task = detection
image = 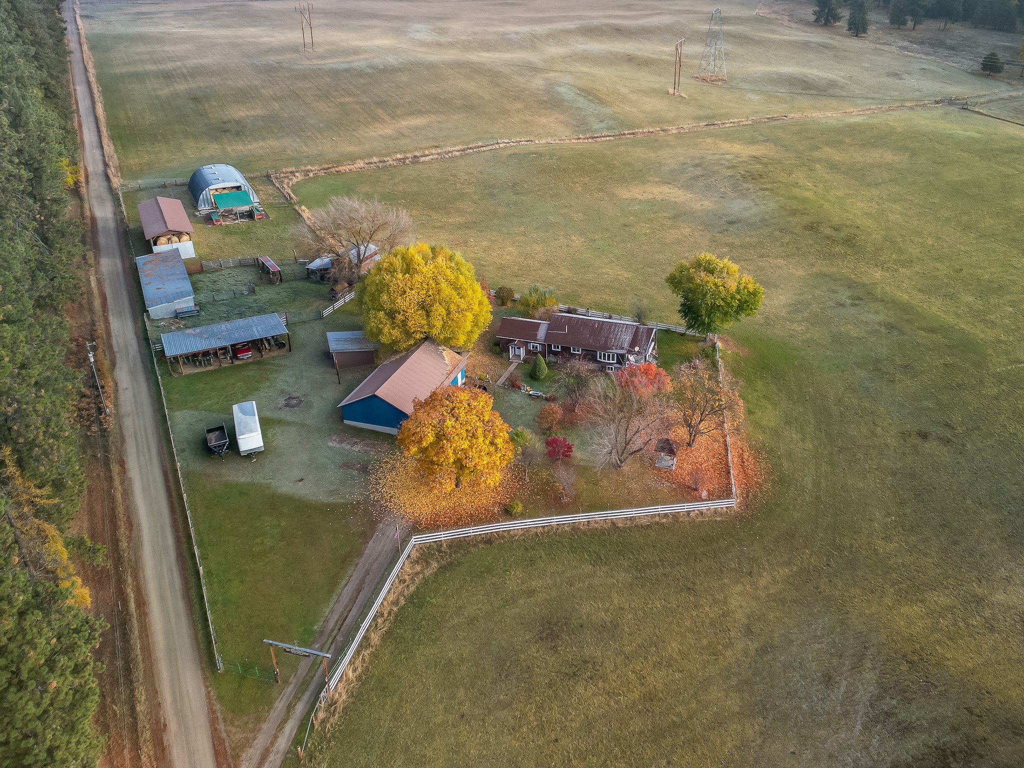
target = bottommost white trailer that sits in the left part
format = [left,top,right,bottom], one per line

[233,401,264,461]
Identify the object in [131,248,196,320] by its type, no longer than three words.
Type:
shed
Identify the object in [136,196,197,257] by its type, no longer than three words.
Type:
barn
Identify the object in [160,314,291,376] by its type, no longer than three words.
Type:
shed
